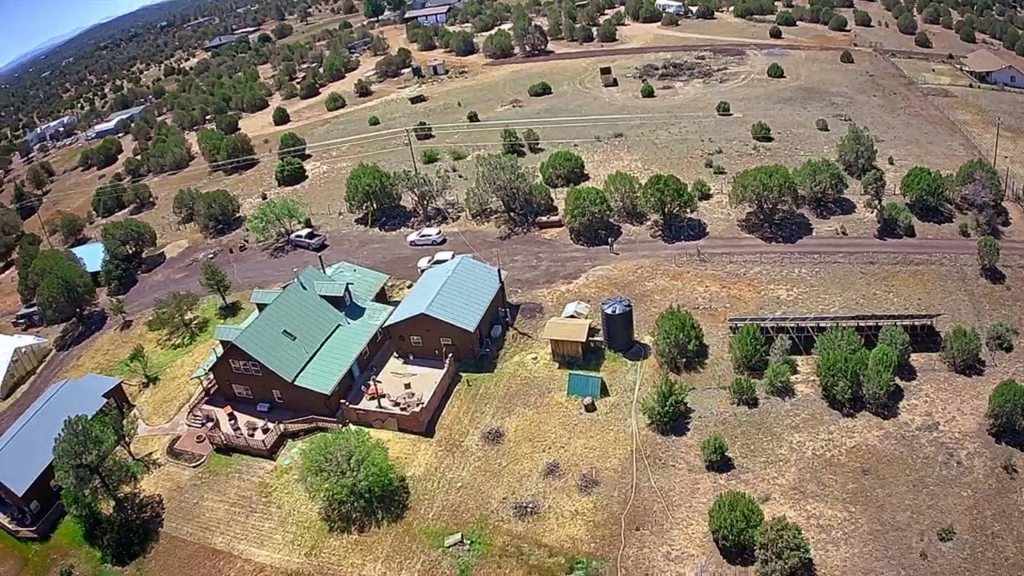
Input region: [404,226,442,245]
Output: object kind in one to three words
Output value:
car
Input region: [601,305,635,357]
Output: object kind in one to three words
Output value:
water tank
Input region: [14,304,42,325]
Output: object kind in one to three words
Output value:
truck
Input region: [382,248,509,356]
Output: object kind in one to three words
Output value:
building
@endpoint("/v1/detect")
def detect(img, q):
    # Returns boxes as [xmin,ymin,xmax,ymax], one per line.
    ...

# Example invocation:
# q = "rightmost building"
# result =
[960,53,1024,86]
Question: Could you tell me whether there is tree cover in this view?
Yes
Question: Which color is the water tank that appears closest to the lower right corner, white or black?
black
